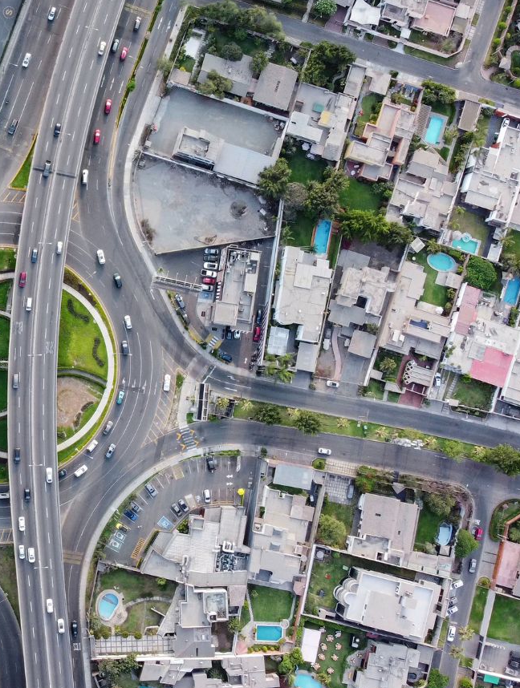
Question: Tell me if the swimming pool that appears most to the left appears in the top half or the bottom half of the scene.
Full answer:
The bottom half of the photo is where the swimming pool that appears most to the left is.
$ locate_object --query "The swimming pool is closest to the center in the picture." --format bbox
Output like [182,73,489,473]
[314,218,335,256]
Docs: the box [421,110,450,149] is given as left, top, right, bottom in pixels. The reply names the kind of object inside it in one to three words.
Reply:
swimming pool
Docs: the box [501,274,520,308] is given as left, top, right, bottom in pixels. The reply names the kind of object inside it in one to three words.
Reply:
swimming pool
